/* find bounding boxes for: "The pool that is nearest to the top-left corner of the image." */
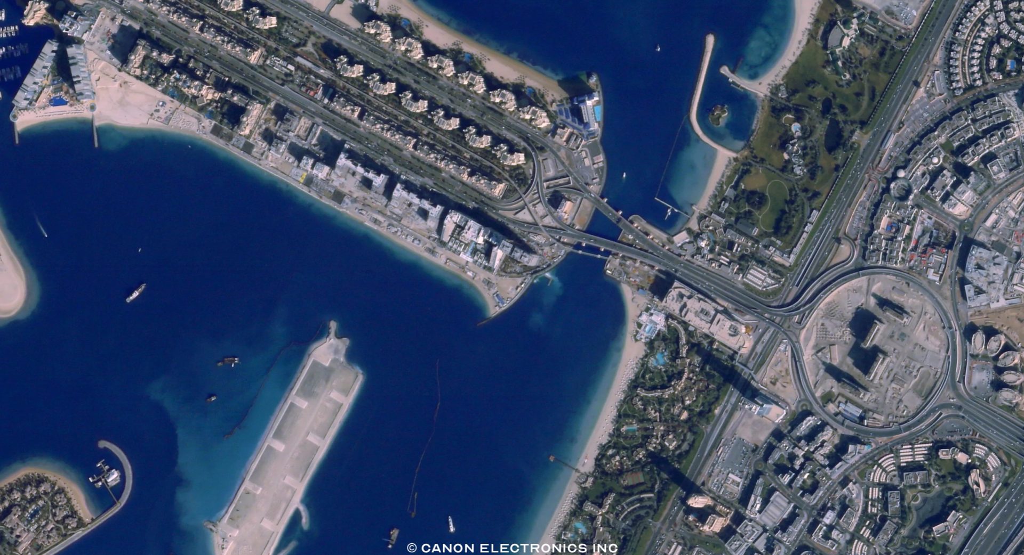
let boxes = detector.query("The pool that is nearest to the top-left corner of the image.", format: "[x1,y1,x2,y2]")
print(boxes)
[48,95,69,107]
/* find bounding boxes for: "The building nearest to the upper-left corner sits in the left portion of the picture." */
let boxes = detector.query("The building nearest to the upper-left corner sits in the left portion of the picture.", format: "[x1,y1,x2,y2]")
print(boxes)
[23,0,54,28]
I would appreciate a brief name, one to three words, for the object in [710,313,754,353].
building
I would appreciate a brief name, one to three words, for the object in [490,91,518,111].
building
